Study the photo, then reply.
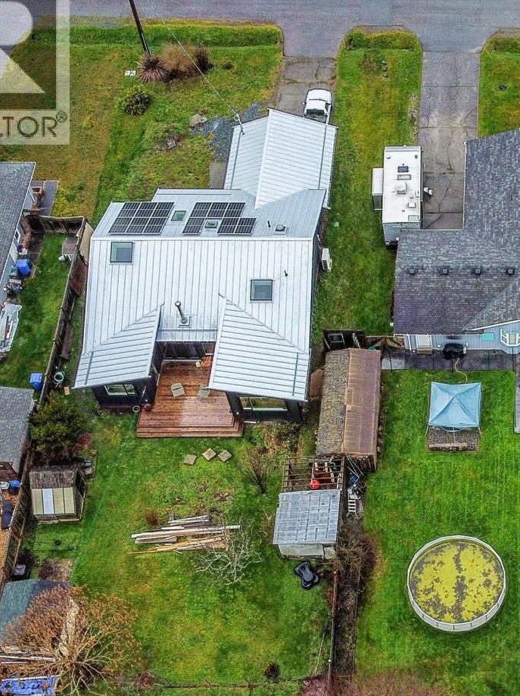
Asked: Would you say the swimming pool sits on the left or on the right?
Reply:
right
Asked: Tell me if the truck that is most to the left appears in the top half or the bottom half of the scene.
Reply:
top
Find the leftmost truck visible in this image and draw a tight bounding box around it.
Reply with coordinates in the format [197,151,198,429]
[299,80,332,118]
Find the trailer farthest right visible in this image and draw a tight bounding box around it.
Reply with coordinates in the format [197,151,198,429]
[371,152,425,250]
